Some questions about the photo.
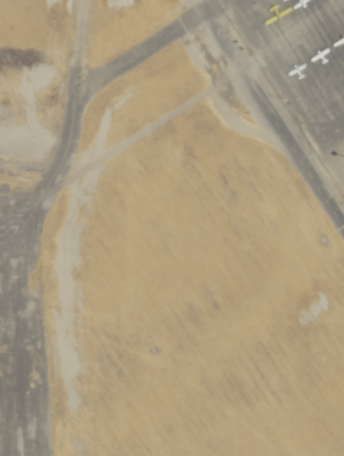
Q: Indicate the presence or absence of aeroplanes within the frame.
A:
Yes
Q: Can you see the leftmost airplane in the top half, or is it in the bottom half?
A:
top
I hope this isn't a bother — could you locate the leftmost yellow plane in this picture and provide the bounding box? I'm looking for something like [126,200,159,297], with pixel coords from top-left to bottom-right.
[264,5,292,25]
